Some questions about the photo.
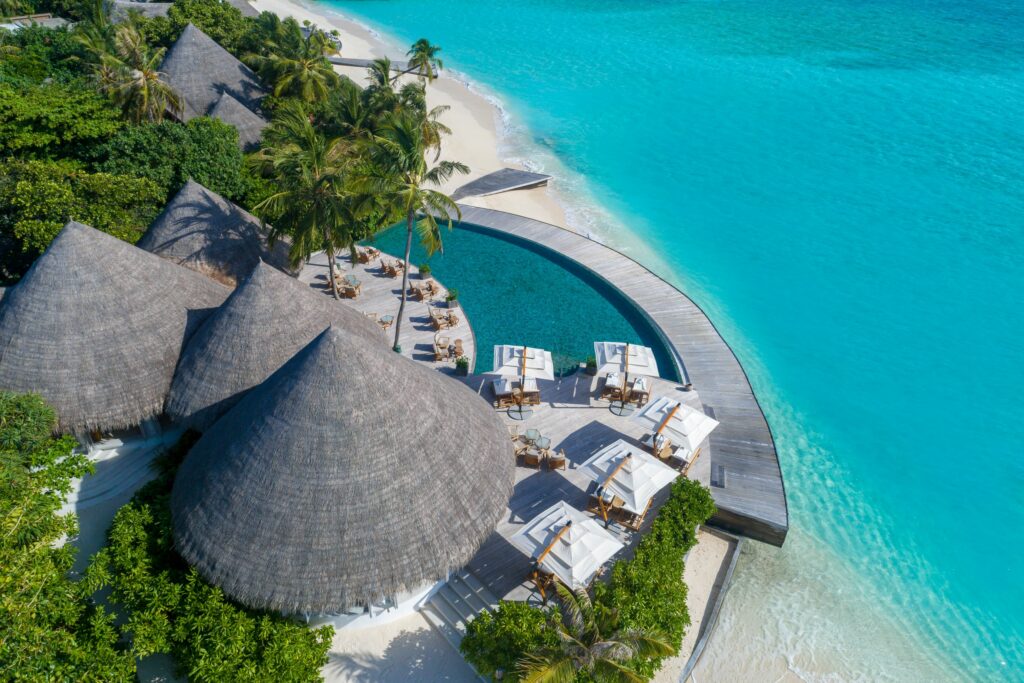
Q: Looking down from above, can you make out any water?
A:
Yes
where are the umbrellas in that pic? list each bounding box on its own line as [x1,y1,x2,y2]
[579,437,680,539]
[636,394,719,470]
[487,346,556,424]
[512,499,621,616]
[594,343,659,421]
